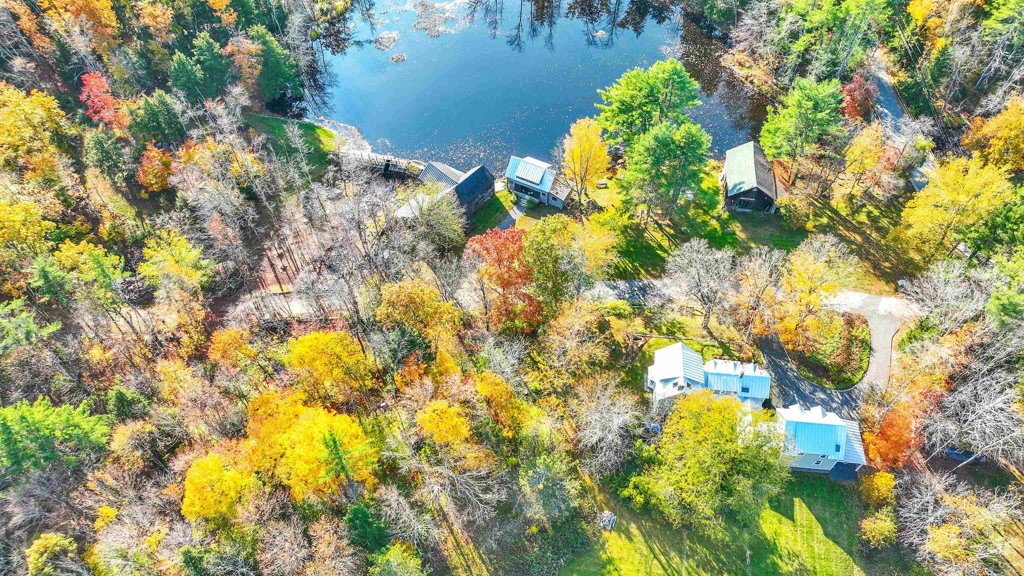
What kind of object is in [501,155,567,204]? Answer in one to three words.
house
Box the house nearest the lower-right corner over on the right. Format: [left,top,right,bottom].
[773,401,868,487]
